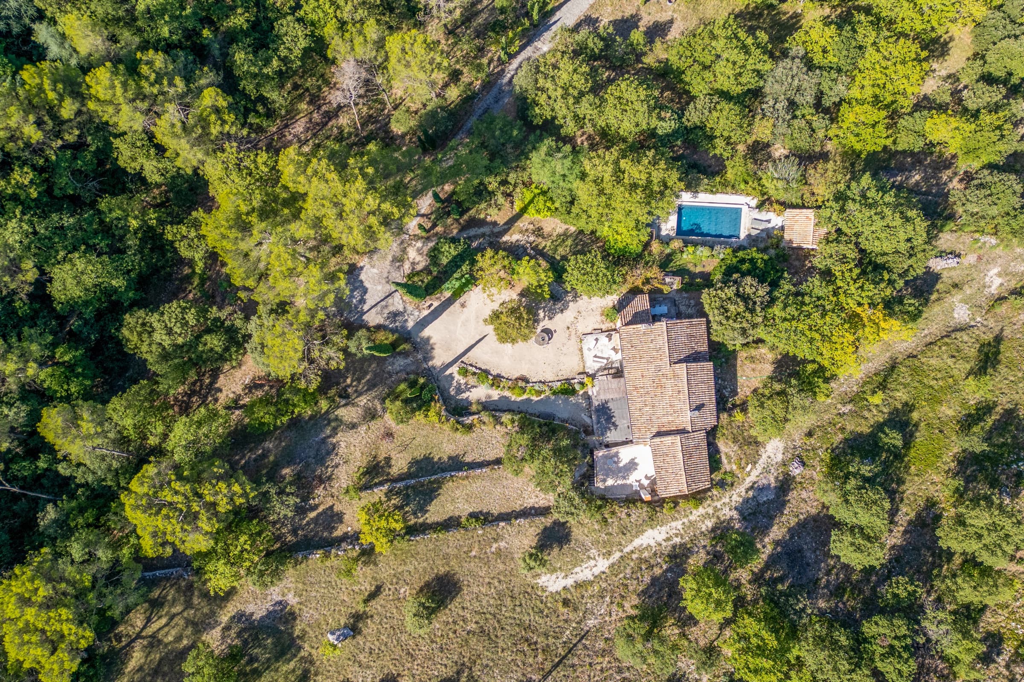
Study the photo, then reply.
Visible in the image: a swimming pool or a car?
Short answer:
swimming pool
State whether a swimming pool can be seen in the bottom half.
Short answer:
No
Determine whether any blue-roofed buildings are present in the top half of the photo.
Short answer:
No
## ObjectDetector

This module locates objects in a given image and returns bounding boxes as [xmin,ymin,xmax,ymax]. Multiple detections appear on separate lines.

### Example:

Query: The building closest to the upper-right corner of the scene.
[777,208,829,251]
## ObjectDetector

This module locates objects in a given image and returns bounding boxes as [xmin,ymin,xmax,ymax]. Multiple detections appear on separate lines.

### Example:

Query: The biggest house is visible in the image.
[617,317,719,498]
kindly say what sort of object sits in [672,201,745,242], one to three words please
swimming pool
